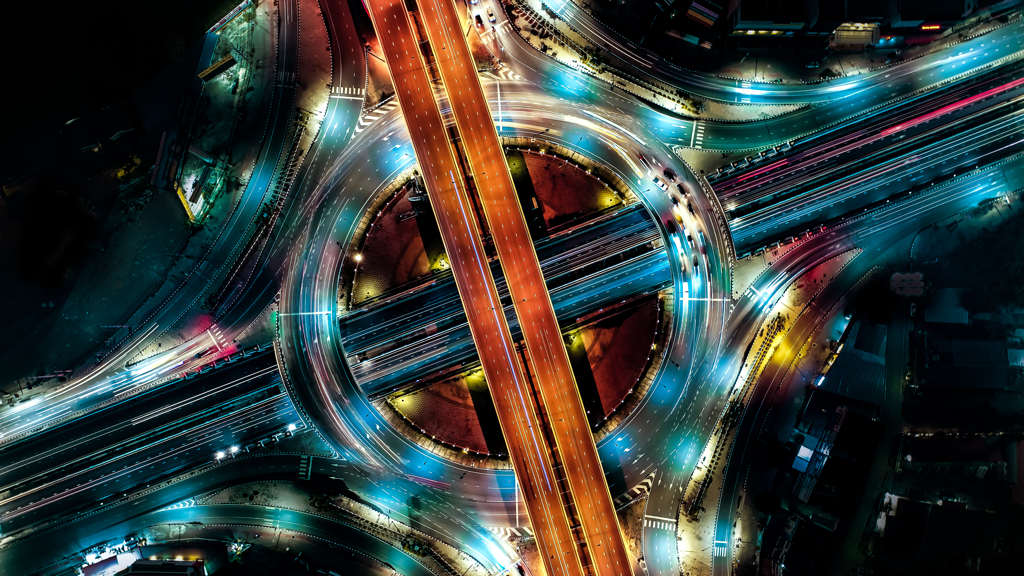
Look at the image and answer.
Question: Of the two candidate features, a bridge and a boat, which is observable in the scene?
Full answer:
This aerial view contains a bridge.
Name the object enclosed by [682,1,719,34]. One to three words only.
building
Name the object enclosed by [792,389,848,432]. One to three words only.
building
